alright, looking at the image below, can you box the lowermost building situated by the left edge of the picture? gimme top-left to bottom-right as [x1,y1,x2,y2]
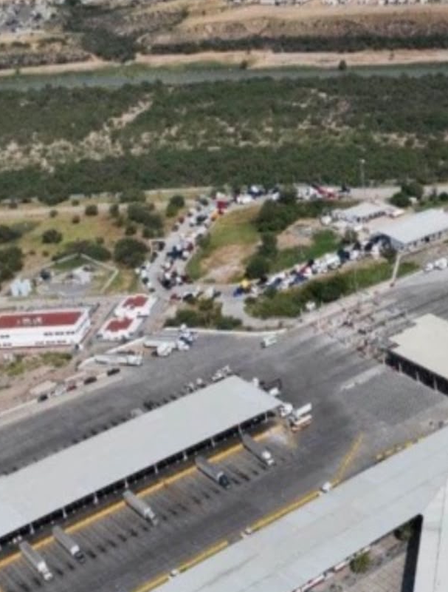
[0,309,90,341]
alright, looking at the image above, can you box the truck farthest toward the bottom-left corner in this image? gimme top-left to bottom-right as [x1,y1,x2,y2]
[18,542,52,580]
